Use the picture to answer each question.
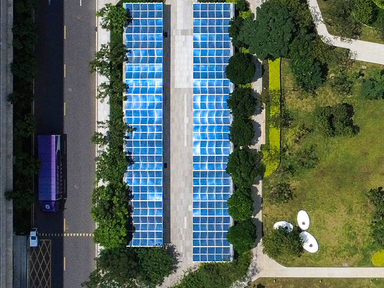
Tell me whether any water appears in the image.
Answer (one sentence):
No, there's no water in this view.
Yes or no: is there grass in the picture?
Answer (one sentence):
Yes, there's grass in this view.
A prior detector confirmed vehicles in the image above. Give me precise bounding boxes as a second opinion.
[38,134,64,211]
[28,228,40,247]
